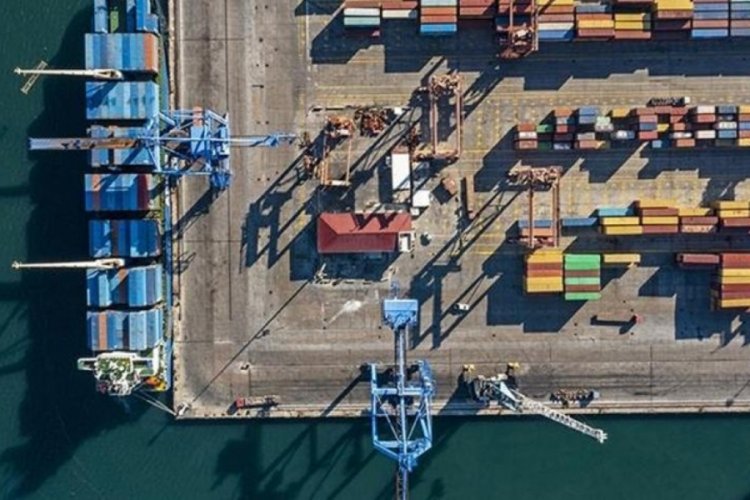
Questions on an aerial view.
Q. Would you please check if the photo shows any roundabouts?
No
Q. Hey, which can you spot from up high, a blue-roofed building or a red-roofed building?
red-roofed building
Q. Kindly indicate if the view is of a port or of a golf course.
port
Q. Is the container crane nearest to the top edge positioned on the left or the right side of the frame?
right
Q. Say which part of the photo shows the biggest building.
center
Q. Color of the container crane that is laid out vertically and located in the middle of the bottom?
blue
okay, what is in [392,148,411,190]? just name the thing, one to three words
shed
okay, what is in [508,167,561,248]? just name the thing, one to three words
container crane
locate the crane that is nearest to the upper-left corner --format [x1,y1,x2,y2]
[13,67,130,81]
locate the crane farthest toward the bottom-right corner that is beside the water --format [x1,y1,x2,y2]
[464,364,611,441]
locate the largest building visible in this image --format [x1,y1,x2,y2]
[318,213,412,253]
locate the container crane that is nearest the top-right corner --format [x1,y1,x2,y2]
[491,0,540,70]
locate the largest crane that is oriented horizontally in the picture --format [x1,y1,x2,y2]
[35,102,297,190]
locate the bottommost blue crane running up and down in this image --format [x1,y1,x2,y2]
[364,279,442,500]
